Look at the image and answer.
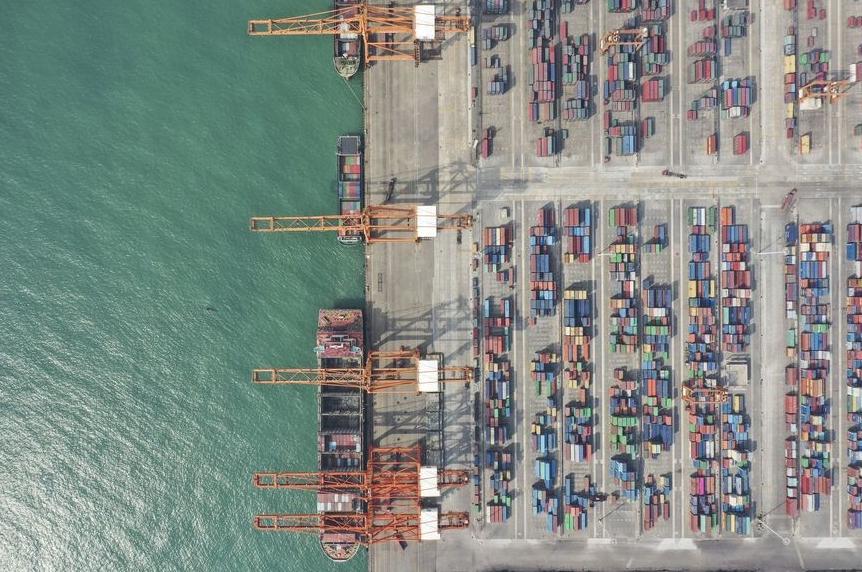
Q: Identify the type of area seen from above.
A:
port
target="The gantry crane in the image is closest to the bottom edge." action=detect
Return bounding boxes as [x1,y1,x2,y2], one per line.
[253,480,475,543]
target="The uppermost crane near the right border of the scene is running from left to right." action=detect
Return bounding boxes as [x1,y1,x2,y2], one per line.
[798,74,859,103]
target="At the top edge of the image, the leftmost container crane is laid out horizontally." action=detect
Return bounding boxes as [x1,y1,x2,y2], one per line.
[248,0,471,70]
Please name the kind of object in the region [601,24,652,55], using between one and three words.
container crane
